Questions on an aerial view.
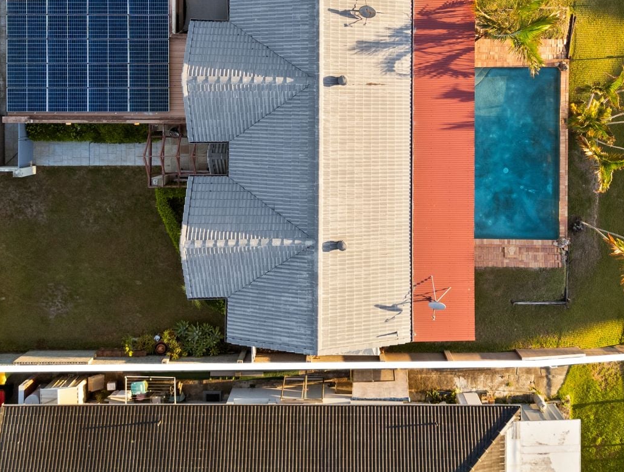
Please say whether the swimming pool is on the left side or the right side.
right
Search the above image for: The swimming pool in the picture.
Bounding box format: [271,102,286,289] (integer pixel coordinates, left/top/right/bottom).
[475,40,569,267]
